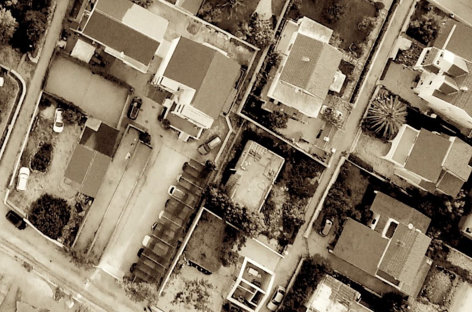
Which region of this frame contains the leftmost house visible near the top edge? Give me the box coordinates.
[78,0,169,73]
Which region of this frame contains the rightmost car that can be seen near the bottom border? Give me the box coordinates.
[265,282,286,312]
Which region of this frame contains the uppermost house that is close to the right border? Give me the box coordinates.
[405,16,472,126]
